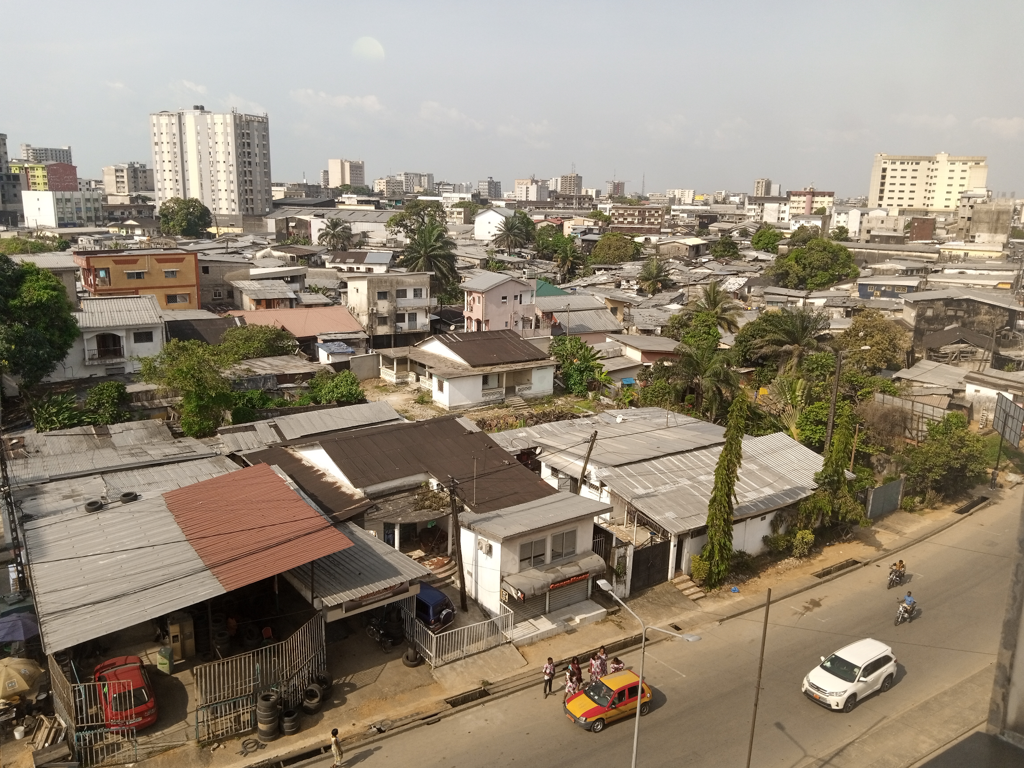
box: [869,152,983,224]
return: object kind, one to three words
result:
building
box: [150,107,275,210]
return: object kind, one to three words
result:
building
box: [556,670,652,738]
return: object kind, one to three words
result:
car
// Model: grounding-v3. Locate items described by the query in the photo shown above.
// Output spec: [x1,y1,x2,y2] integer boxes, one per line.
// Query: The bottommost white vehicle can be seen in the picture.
[798,637,905,714]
